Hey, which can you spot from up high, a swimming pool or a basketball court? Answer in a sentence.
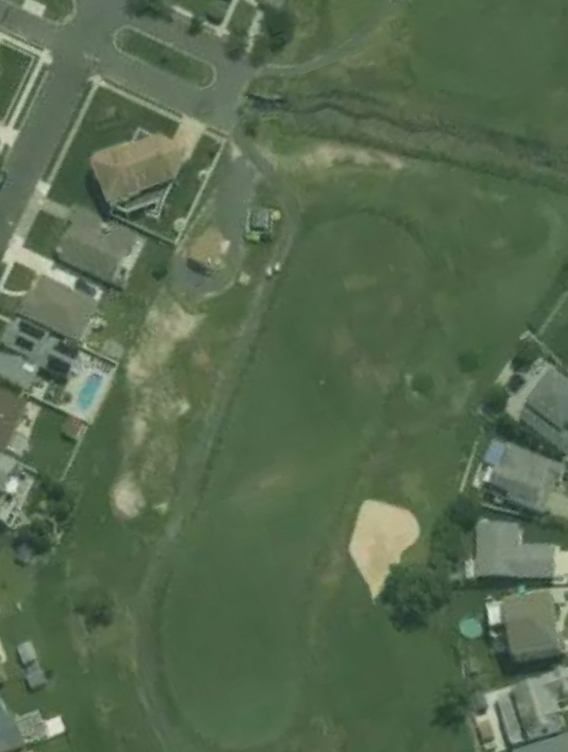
This aerial view contains a swimming pool.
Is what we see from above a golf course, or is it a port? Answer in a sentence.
This looks like a golf course.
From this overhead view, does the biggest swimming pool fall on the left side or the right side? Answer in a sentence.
The biggest swimming pool sits on the left side.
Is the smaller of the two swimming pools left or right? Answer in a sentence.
The smaller of the two swimming pools appears in the right half of the scene.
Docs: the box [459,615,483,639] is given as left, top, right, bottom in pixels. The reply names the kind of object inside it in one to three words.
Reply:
swimming pool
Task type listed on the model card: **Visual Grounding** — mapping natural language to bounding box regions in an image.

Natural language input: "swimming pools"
[459,615,483,639]
[76,369,107,411]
